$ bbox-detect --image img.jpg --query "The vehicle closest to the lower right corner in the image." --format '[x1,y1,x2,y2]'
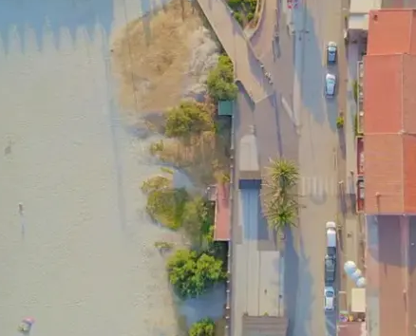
[323,287,336,312]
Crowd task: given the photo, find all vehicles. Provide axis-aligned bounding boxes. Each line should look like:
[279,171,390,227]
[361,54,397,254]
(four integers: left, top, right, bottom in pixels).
[325,74,337,98]
[324,249,338,283]
[326,42,338,64]
[323,287,336,312]
[325,223,338,249]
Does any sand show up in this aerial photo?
Yes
